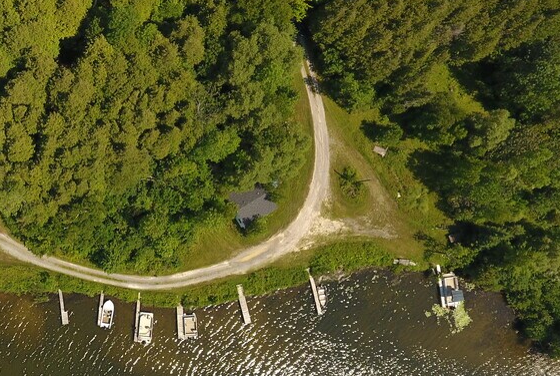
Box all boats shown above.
[183,313,197,340]
[136,311,154,345]
[317,286,326,307]
[101,299,113,331]
[442,274,467,311]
